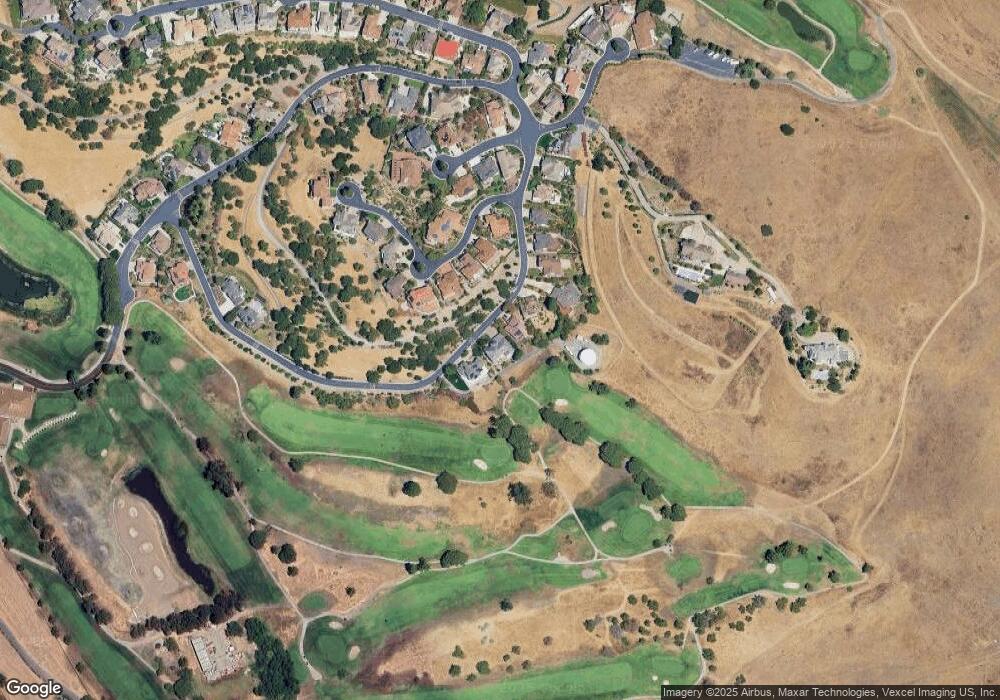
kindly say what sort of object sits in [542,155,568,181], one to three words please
house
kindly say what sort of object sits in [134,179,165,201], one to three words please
house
